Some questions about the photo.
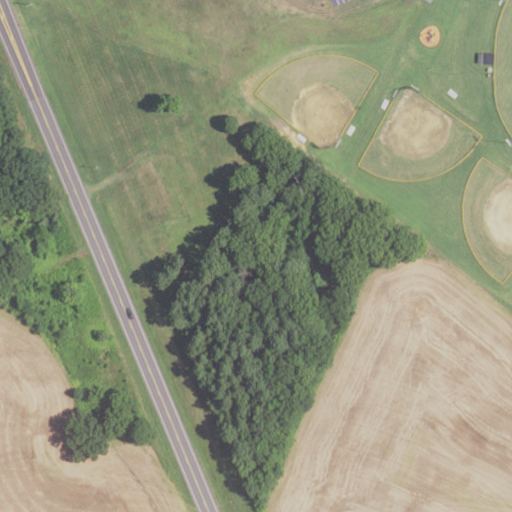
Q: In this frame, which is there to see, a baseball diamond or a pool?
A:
baseball diamond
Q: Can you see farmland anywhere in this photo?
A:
Yes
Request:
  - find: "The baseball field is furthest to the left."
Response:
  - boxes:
[254,54,379,148]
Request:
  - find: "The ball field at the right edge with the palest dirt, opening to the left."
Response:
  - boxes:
[462,157,512,285]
